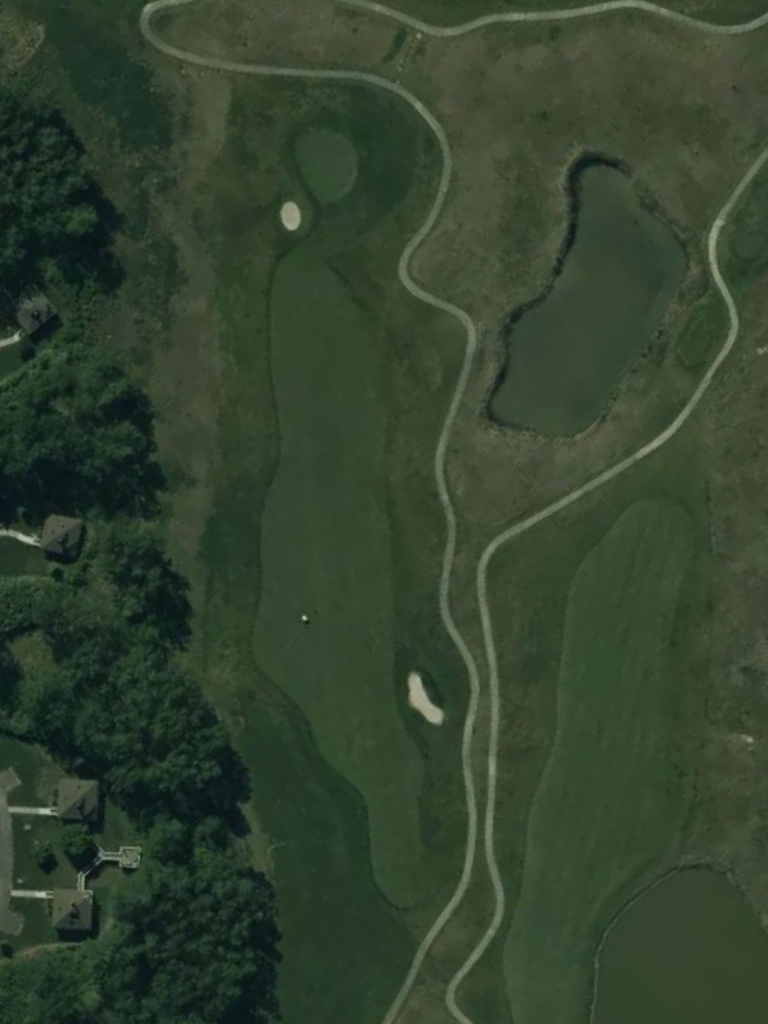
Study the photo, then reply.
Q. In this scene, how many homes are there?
4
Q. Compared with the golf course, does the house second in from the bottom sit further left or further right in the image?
to its left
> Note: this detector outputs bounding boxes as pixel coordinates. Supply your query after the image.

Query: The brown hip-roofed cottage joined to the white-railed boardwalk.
[49,889,93,930]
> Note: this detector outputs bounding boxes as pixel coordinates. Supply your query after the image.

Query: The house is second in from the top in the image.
[40,513,81,553]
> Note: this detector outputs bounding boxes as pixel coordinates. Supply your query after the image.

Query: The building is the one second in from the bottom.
[57,780,97,820]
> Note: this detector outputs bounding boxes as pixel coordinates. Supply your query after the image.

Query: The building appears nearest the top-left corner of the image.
[6,284,56,334]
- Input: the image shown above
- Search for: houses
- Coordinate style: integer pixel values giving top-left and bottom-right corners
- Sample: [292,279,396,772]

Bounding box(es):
[40,513,81,553]
[49,889,93,930]
[6,284,56,334]
[57,780,97,820]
